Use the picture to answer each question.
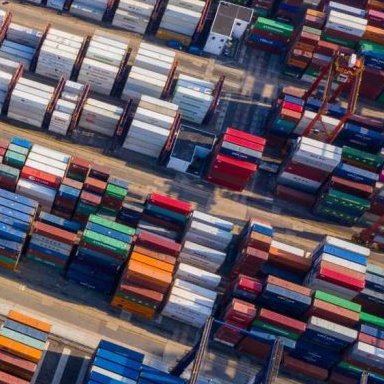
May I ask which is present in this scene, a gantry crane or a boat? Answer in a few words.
gantry crane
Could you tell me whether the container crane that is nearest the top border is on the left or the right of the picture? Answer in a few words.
right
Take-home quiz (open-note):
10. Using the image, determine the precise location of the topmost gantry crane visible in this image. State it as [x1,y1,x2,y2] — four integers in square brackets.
[287,47,368,154]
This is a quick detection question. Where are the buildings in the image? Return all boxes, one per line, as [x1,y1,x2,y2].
[203,1,253,55]
[166,124,216,174]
